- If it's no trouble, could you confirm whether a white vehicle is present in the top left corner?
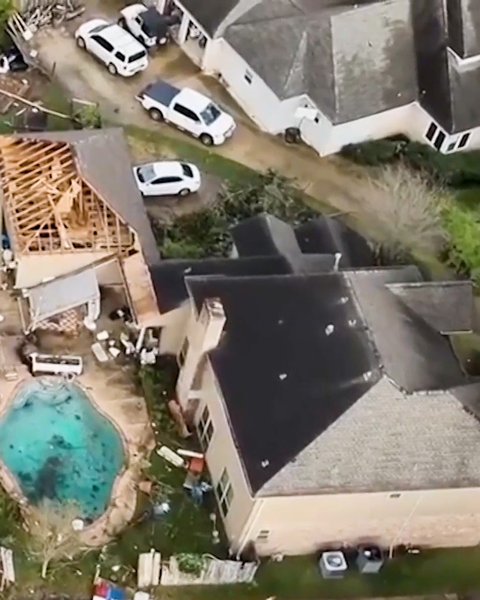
Yes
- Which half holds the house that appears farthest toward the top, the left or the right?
right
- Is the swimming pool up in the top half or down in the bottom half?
bottom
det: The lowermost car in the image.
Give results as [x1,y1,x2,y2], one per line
[132,157,202,195]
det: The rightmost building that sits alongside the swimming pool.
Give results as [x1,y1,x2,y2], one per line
[144,212,480,551]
